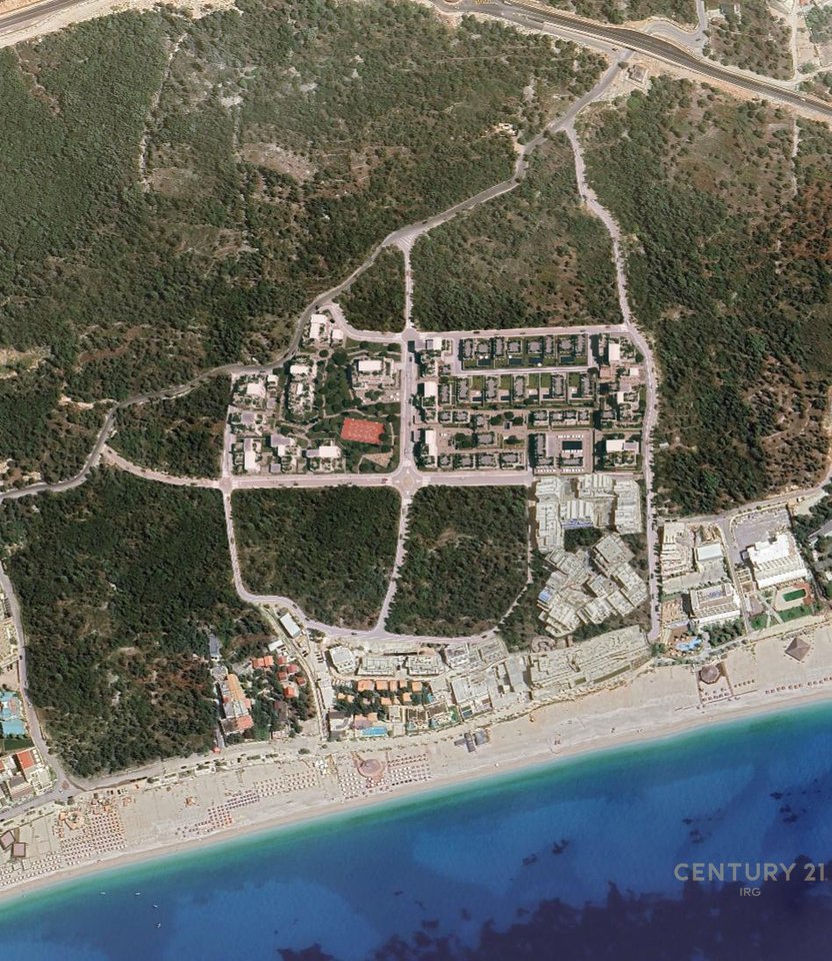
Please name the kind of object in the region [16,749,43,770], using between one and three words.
house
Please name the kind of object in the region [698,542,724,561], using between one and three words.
shed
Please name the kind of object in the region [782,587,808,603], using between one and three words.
swimming pool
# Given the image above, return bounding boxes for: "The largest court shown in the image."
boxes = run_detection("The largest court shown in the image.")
[341,419,384,445]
